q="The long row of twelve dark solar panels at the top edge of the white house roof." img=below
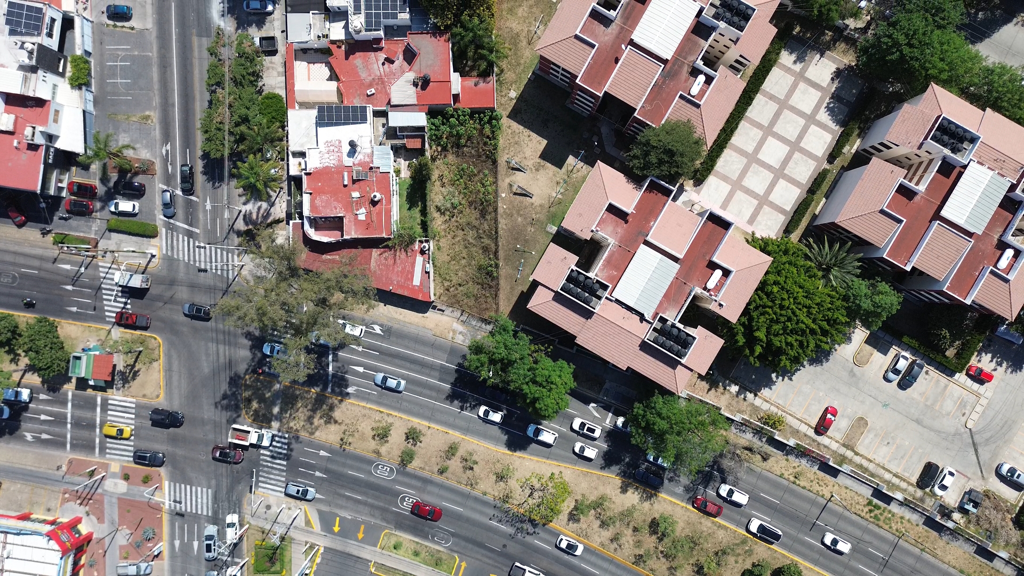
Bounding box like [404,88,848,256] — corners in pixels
[316,105,368,122]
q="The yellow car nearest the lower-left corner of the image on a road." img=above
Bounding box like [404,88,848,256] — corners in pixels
[103,423,135,439]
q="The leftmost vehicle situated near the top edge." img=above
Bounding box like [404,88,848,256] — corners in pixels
[106,4,135,20]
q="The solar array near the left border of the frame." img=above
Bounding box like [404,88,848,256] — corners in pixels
[4,0,44,32]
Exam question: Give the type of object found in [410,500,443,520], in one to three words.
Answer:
car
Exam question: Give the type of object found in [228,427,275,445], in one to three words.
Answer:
vehicle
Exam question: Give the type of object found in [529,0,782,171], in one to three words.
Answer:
building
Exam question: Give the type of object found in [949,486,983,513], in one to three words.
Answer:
shed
